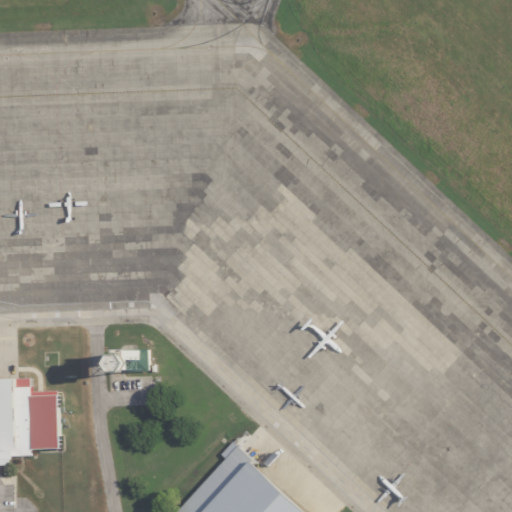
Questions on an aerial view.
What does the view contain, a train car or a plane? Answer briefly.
plane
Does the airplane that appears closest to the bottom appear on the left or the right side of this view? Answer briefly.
right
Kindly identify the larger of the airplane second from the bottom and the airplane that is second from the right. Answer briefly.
the airplane that is second from the right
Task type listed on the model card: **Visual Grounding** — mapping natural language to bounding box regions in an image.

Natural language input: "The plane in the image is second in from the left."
[48,193,86,223]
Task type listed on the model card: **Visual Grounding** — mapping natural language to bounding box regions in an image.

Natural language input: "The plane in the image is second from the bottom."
[276,382,304,411]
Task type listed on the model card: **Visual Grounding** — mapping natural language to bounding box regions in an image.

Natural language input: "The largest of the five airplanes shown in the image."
[301,318,344,360]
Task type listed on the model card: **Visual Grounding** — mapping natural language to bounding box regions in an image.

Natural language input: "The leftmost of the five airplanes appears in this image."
[2,202,36,236]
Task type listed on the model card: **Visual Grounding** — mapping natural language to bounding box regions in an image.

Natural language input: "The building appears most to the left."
[0,378,60,466]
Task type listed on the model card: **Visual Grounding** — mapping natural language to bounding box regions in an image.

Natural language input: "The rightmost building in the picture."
[180,442,307,512]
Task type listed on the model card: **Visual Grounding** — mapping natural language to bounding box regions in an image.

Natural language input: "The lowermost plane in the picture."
[377,474,408,506]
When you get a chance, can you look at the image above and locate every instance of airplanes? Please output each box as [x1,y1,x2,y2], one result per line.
[377,474,408,506]
[48,193,86,223]
[276,382,304,411]
[2,202,36,236]
[301,318,344,360]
